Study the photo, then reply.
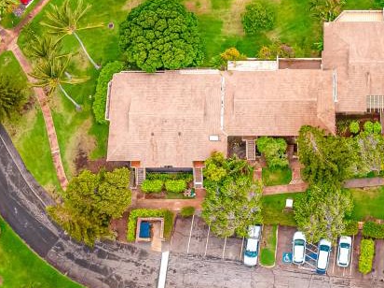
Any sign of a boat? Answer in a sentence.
No, there isn't any boat down there.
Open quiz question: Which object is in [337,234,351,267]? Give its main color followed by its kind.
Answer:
white car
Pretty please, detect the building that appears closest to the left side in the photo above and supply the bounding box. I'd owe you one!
[106,68,228,191]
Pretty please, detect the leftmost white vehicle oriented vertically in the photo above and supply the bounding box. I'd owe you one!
[243,226,260,266]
